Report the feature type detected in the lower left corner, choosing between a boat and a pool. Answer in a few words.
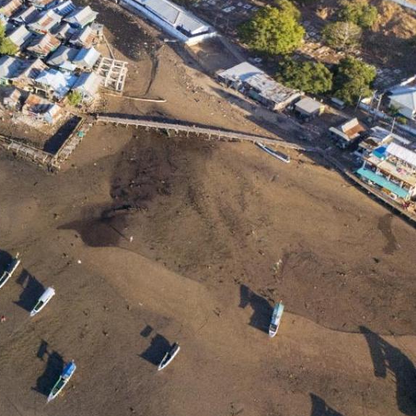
boat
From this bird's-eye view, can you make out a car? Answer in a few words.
No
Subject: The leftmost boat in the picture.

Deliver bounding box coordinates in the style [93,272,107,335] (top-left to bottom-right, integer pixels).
[0,248,24,285]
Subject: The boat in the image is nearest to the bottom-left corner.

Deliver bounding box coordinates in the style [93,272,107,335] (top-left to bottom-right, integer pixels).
[49,350,81,398]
